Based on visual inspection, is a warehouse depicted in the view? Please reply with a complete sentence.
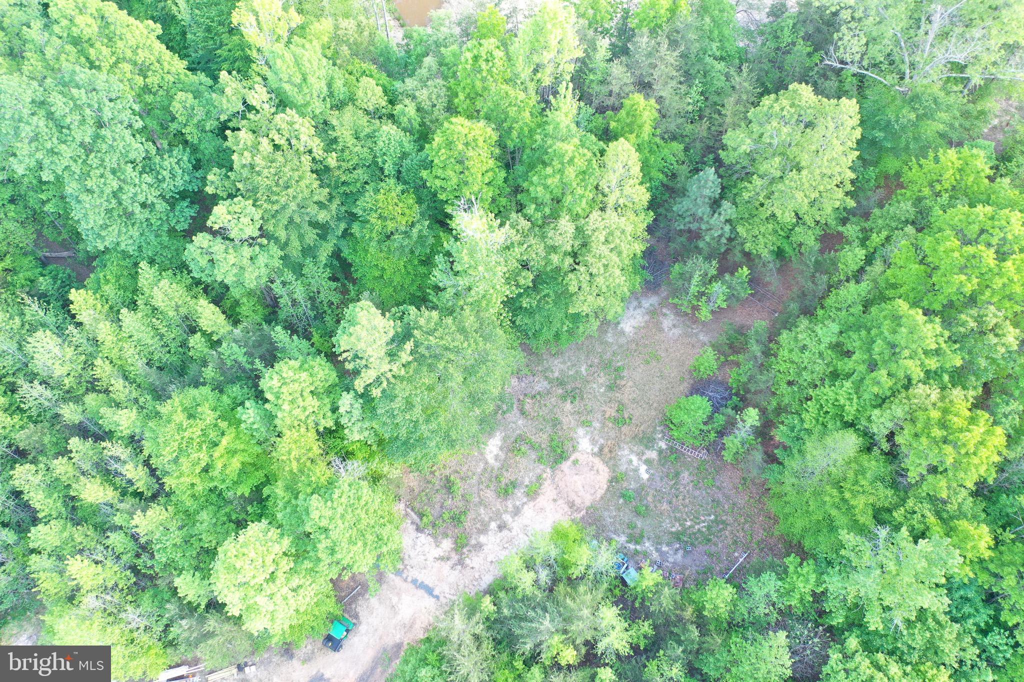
No, no warehouse is visible in the view.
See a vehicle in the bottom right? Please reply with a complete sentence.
No, looking in the bottom right, there is no vehicle.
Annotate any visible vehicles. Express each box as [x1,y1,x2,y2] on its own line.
[322,616,357,655]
